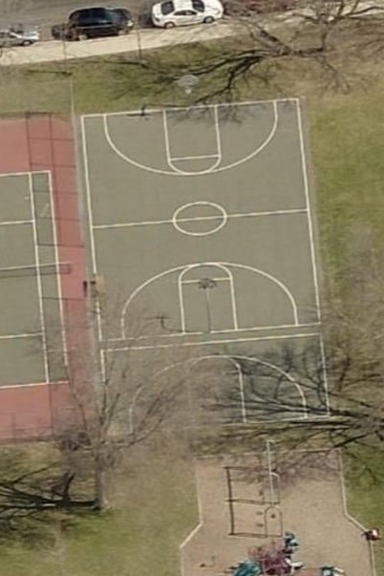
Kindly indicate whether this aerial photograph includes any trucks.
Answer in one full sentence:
No, the frame has no truck in it.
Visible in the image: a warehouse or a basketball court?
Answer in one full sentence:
It is a basketball court that can be seen here.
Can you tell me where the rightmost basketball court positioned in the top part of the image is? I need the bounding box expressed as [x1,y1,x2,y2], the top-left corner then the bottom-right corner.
[79,96,324,346]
